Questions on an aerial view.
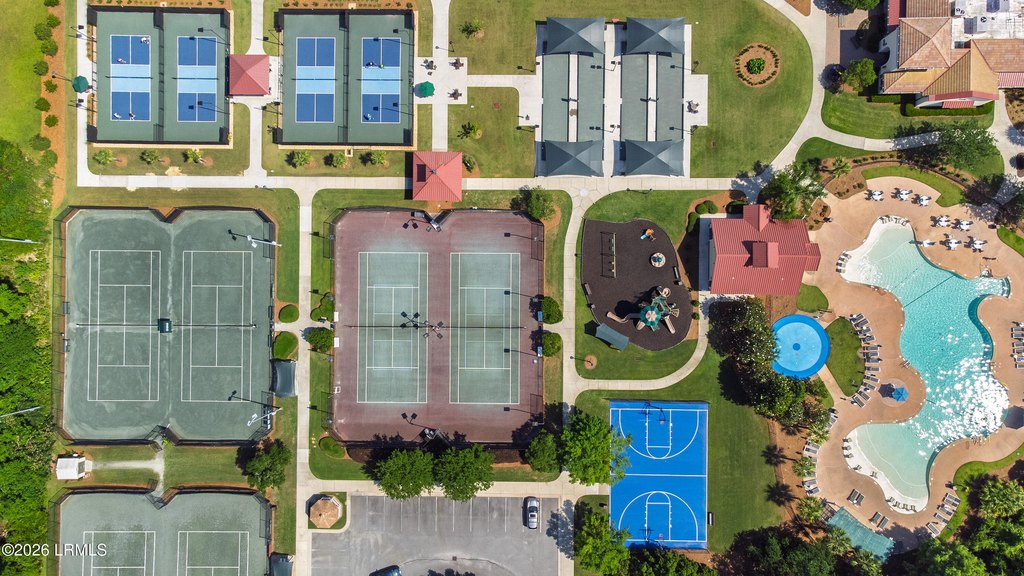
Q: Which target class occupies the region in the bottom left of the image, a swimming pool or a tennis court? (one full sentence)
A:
What appears in the bottom left of the image is a tennis court.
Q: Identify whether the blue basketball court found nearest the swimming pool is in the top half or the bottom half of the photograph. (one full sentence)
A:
The blue basketball court found nearest the swimming pool sits in the bottom half of the picture.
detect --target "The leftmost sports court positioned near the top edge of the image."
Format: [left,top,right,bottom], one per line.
[97,12,162,140]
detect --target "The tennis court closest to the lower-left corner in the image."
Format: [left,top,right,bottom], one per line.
[60,494,163,576]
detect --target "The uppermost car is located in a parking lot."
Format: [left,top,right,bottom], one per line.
[524,499,538,529]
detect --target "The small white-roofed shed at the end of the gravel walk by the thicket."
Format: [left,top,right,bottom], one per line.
[54,455,94,479]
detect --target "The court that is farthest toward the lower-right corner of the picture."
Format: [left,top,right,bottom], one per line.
[610,401,708,550]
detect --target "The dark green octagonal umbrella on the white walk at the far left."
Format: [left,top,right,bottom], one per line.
[72,75,92,94]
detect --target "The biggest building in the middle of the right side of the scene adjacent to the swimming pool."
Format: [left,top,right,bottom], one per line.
[708,203,821,294]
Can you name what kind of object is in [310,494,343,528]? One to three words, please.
gazebo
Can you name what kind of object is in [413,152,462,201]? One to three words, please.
building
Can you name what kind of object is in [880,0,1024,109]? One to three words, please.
building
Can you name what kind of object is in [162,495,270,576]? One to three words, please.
tennis court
